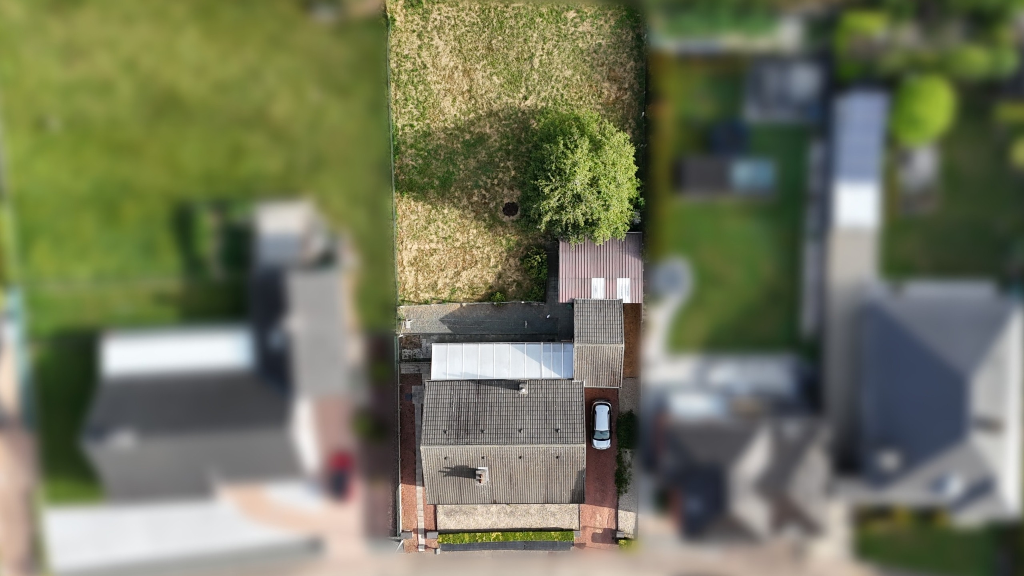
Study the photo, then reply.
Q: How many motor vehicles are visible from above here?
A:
2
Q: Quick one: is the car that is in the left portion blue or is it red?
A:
red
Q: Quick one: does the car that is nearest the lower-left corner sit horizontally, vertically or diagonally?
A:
vertically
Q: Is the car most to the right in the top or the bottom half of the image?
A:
bottom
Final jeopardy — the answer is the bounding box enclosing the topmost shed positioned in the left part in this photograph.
[255,203,322,266]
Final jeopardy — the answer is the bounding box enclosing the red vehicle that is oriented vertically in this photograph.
[330,451,355,502]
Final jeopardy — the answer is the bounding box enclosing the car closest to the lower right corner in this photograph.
[590,398,614,448]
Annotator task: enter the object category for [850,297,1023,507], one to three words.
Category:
house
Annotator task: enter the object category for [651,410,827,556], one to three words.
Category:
house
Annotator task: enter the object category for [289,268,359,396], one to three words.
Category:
building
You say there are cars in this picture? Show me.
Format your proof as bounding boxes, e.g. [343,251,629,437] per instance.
[330,451,355,502]
[590,398,614,448]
